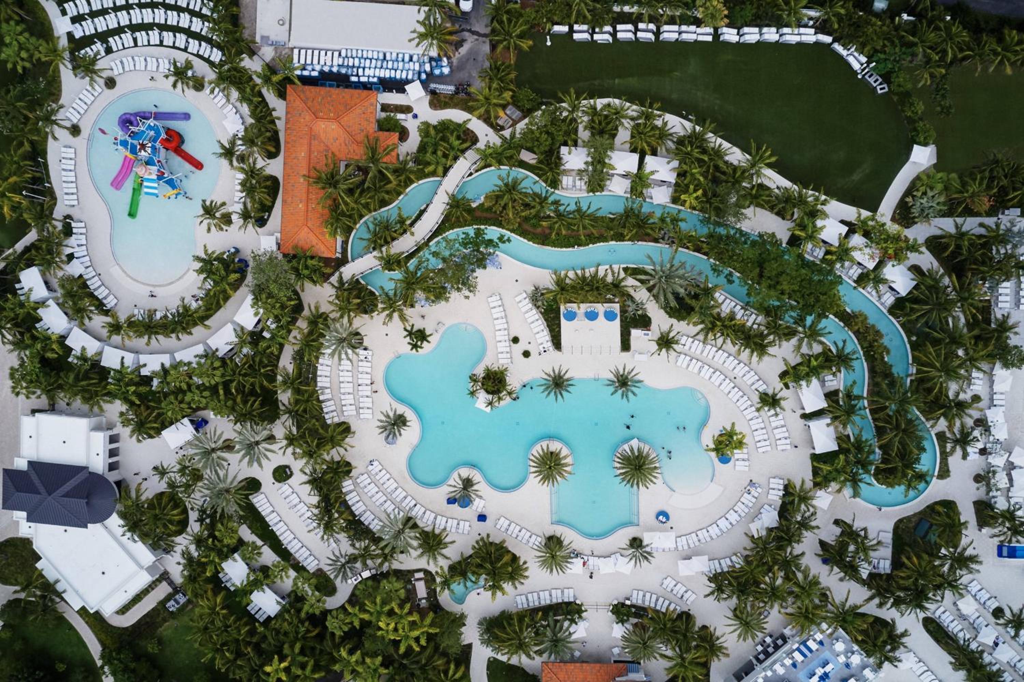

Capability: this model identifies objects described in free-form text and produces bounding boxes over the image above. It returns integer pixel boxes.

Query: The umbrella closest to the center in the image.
[473,391,494,413]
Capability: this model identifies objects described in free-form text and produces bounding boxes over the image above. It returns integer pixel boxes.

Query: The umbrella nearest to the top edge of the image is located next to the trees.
[55,16,75,34]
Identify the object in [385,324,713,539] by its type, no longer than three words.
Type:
swimming pool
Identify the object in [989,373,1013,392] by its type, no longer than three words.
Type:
umbrella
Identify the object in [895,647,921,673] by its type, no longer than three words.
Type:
umbrella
